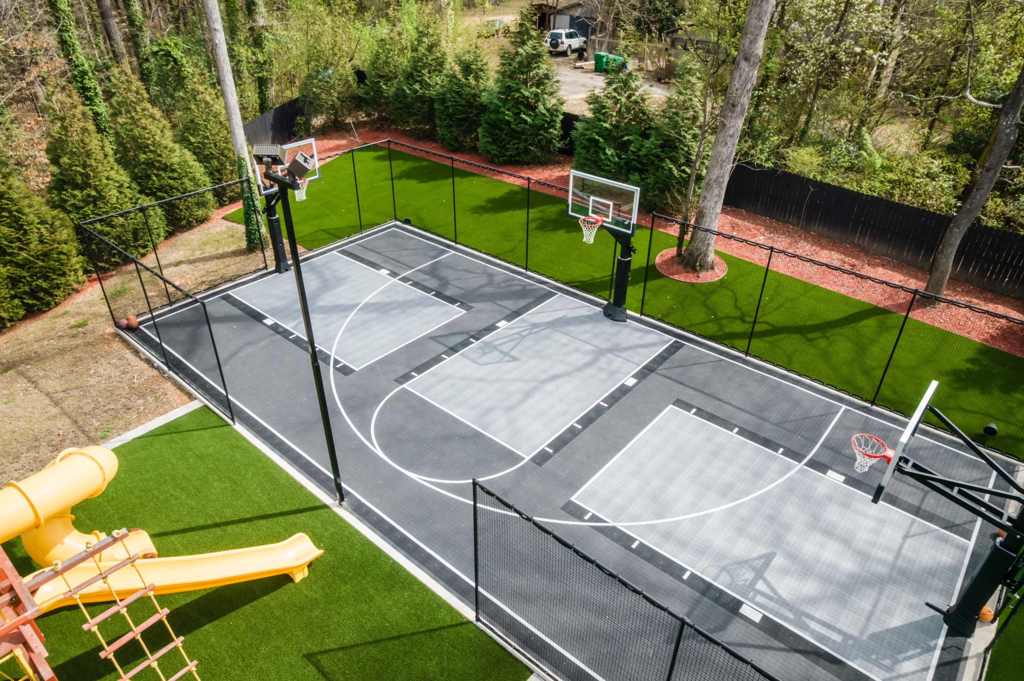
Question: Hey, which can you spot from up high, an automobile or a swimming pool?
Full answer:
This aerial view contains an automobile.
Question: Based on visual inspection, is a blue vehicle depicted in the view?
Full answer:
No, there is no blue vehicle in the image.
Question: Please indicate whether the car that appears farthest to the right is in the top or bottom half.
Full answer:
It is in the top half that the car that appears farthest to the right appears.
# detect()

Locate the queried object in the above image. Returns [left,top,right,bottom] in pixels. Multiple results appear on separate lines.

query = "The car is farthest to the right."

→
[544,26,588,56]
